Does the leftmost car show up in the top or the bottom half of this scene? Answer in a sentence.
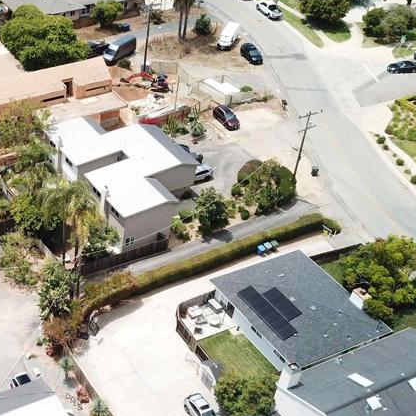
The bottom half of the photo is where the leftmost car is.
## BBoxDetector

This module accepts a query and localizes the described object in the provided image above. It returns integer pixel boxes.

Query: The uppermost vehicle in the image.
[253,2,286,21]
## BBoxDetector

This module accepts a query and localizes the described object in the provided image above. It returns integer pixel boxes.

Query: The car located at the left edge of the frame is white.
[5,365,31,389]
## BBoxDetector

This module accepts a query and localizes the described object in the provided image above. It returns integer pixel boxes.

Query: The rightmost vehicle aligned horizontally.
[385,60,416,76]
